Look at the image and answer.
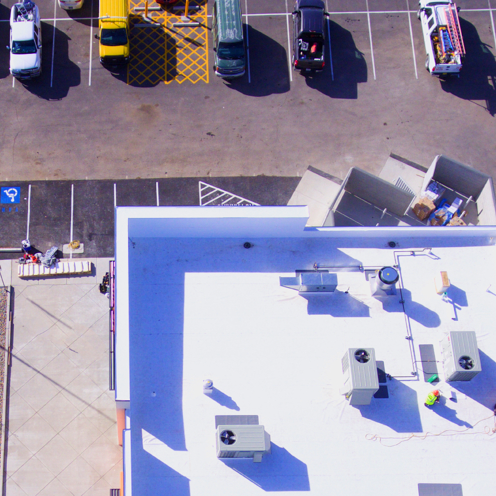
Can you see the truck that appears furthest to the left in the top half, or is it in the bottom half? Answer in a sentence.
Seen from above, the truck that appears furthest to the left lies in the top half of the view.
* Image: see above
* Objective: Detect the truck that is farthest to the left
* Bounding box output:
[5,2,43,77]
